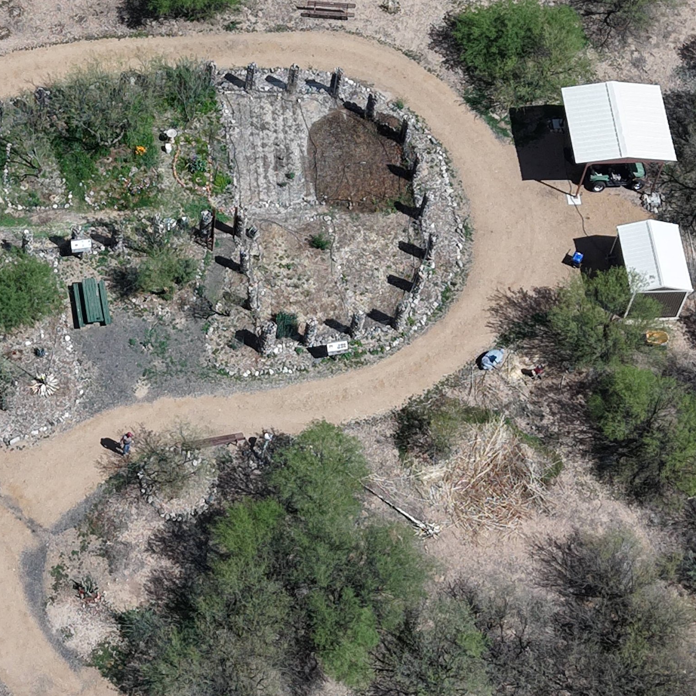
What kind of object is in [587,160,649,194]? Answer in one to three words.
vehicle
